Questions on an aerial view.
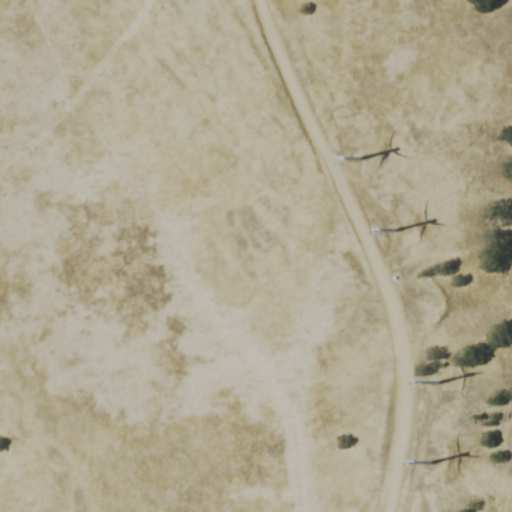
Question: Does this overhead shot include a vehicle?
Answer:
No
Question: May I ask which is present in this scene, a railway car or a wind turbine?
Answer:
wind turbine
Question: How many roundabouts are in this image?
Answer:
0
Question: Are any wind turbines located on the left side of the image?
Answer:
No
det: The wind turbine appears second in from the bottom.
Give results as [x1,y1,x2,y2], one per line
[409,365,442,400]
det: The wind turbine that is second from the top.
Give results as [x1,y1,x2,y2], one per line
[367,210,399,244]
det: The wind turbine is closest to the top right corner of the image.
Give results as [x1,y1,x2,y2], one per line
[332,138,364,170]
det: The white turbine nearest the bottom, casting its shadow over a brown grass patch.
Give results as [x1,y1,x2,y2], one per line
[404,444,436,478]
